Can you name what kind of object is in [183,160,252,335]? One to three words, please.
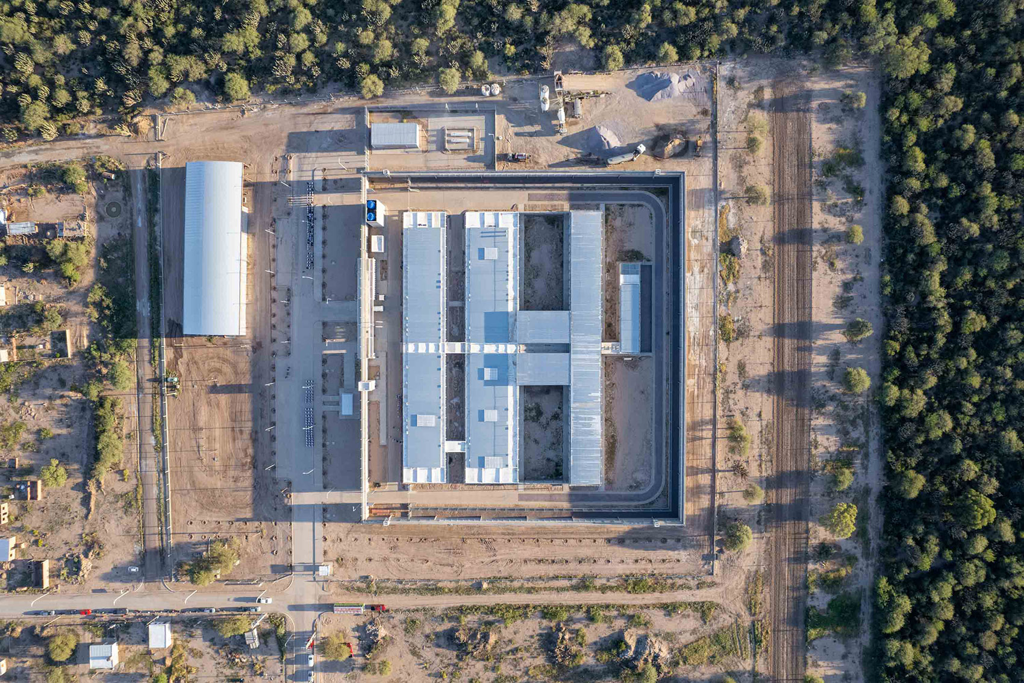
building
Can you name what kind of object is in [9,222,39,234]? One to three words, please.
shed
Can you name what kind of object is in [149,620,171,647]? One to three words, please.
house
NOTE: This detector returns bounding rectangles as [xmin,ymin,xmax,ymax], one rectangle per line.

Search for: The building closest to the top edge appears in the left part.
[371,123,419,148]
